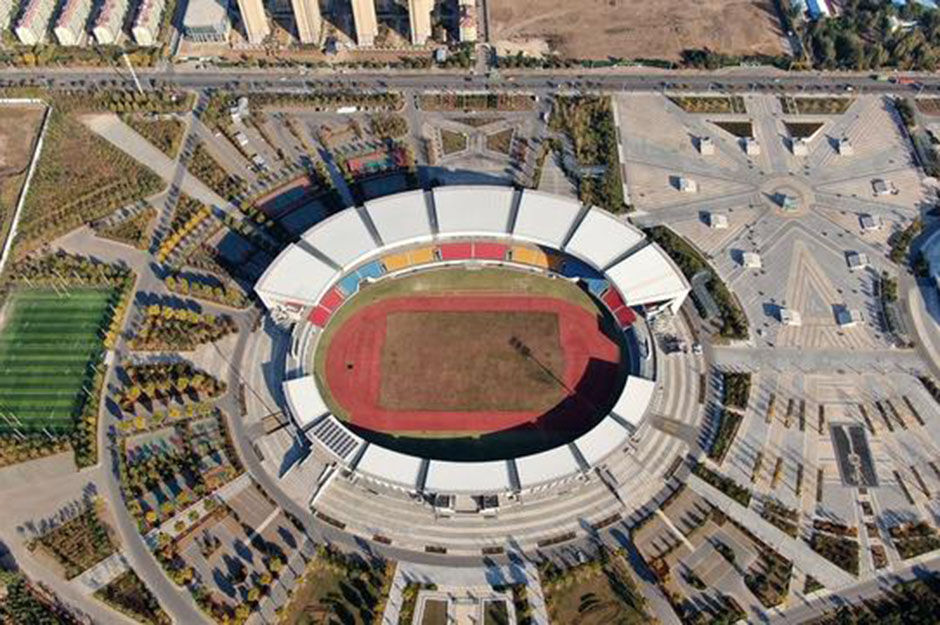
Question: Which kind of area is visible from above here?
sports ground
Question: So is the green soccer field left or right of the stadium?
on the left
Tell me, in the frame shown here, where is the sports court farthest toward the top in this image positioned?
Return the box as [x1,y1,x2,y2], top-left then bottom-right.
[347,143,412,175]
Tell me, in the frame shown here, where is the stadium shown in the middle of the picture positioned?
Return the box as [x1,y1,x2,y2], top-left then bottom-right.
[238,185,716,557]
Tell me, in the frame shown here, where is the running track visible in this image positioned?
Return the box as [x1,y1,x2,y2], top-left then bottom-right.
[314,262,631,462]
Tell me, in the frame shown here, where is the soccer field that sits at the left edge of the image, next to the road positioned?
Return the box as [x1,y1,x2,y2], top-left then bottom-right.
[0,289,120,436]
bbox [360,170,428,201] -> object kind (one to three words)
sports court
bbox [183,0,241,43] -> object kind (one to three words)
building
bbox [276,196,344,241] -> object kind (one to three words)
sports court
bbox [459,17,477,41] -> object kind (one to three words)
house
